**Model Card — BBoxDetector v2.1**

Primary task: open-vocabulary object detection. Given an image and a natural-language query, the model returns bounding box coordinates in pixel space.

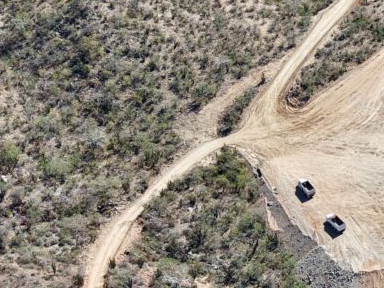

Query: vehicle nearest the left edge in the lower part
[293,180,314,202]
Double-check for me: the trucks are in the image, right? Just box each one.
[293,180,314,202]
[322,214,343,237]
